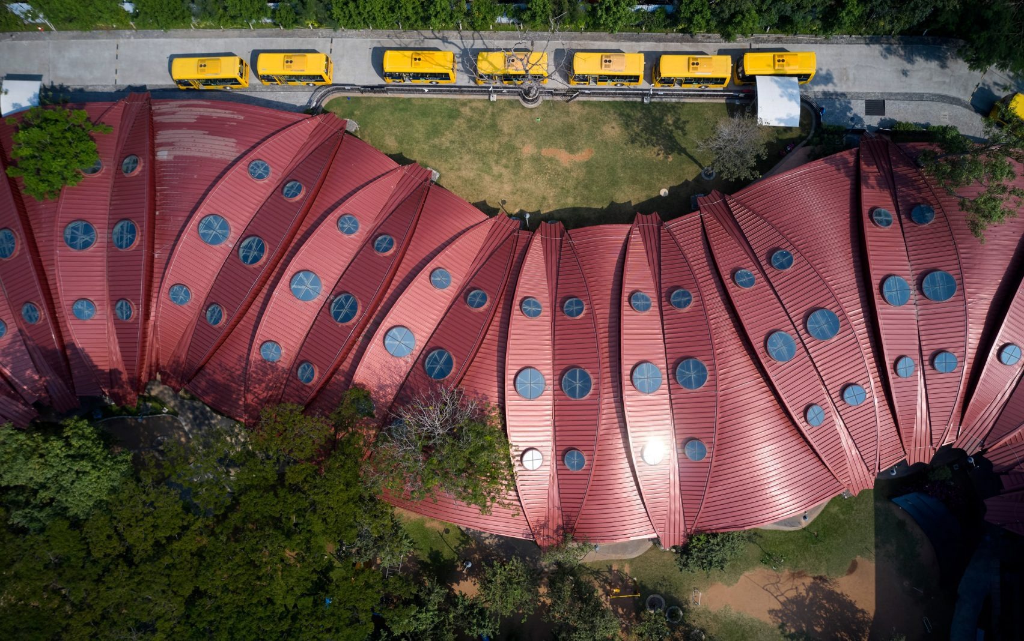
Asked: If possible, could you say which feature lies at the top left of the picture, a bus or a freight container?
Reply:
bus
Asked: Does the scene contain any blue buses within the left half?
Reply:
No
